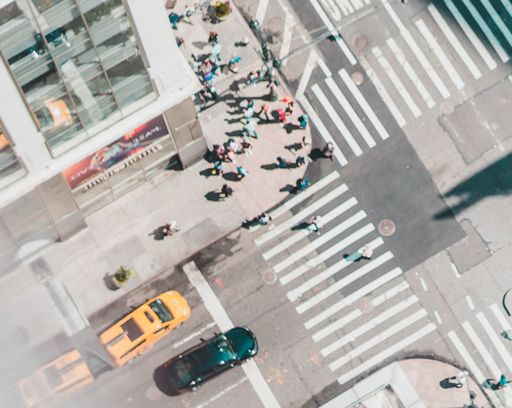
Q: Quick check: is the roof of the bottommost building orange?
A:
No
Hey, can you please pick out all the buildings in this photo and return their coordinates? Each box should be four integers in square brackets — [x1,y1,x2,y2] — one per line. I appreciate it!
[319,361,425,408]
[0,0,210,272]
